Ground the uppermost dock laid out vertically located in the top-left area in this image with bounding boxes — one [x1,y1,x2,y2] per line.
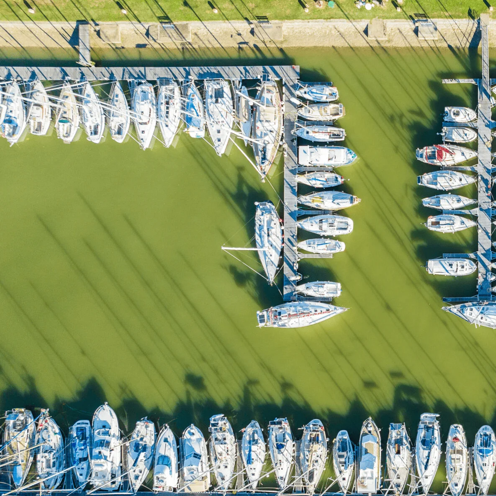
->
[78,25,98,66]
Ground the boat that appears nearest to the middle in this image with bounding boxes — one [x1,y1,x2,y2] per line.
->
[222,199,288,287]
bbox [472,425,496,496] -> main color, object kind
white boat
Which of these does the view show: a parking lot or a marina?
marina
